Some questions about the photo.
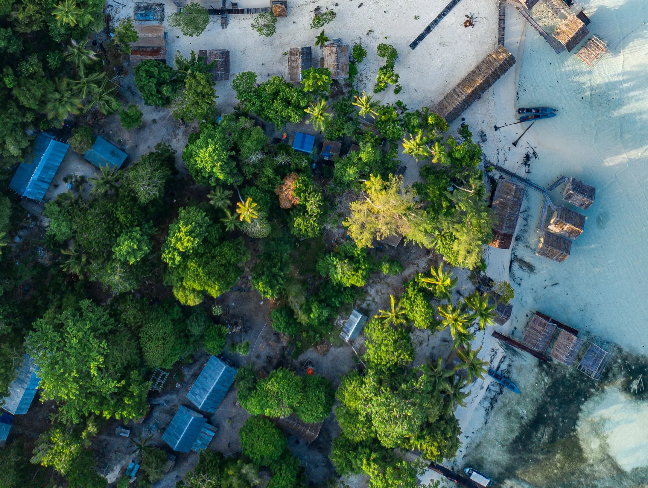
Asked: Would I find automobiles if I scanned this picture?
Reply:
No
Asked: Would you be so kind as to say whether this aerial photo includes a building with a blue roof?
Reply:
Yes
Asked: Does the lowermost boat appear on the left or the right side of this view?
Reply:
right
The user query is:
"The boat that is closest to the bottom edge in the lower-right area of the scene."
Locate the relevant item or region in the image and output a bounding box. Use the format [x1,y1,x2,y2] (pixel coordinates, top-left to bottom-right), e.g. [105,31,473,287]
[464,467,493,488]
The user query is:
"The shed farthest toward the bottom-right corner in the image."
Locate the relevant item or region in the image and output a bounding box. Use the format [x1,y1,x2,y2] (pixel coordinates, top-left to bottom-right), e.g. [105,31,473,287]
[547,324,583,365]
